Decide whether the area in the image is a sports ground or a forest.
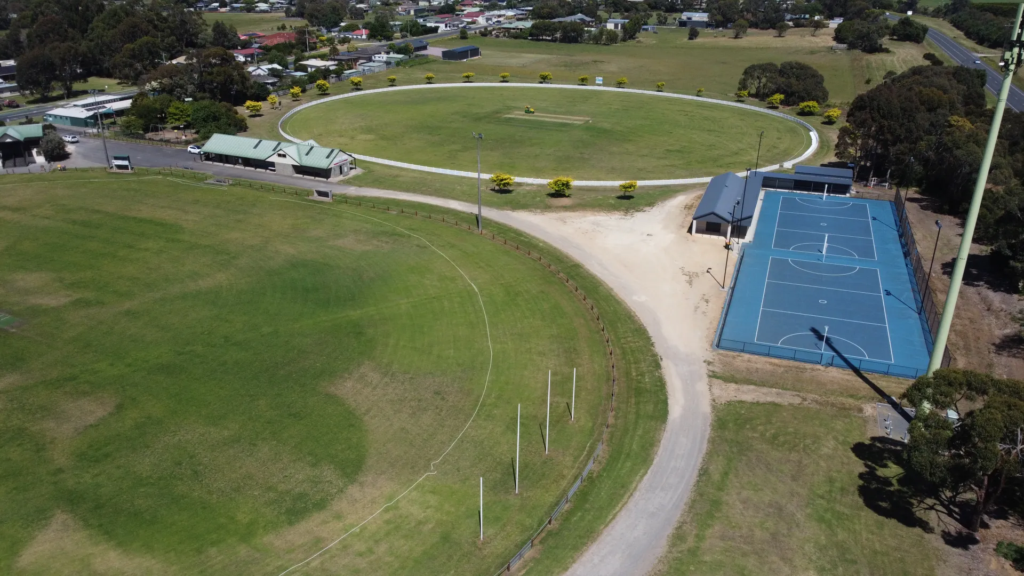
sports ground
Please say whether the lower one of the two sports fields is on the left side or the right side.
left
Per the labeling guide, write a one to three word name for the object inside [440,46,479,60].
shed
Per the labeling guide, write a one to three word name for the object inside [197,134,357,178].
building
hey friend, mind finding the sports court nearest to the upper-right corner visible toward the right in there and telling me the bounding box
[773,196,876,259]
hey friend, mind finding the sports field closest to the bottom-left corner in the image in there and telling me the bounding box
[0,169,613,576]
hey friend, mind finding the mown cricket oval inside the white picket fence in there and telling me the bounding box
[277,84,820,185]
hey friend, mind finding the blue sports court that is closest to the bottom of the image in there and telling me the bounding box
[756,256,893,362]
